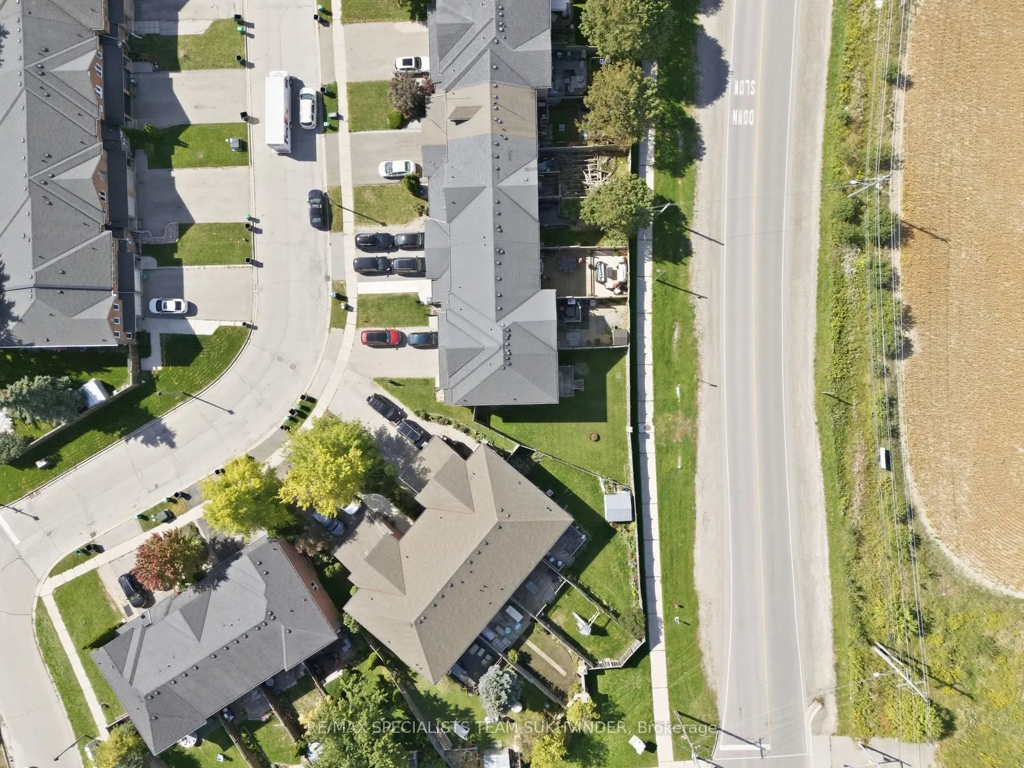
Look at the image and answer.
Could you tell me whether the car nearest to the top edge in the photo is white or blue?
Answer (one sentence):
The car nearest to the top edge is white.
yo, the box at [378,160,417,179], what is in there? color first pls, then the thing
white car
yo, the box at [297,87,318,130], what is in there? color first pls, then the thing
white car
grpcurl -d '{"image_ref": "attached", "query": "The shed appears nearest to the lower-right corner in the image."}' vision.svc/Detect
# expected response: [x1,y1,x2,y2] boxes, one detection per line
[604,490,632,522]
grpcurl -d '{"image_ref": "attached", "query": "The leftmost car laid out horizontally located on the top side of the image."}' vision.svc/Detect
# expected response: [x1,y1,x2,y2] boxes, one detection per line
[150,297,190,316]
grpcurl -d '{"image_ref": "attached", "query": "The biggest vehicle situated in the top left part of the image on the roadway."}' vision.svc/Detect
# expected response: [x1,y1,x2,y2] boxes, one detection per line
[265,71,291,156]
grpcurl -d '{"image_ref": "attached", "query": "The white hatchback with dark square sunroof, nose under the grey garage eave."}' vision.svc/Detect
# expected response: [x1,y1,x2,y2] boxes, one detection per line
[394,54,429,76]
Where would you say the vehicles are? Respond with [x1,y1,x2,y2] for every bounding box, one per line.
[119,570,149,608]
[150,297,190,316]
[392,256,426,275]
[353,255,392,275]
[265,71,291,156]
[406,330,438,349]
[361,328,402,347]
[394,231,425,250]
[306,190,326,229]
[355,231,394,251]
[366,391,406,424]
[394,54,429,76]
[309,506,347,538]
[297,87,318,130]
[378,160,417,179]
[396,418,433,448]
